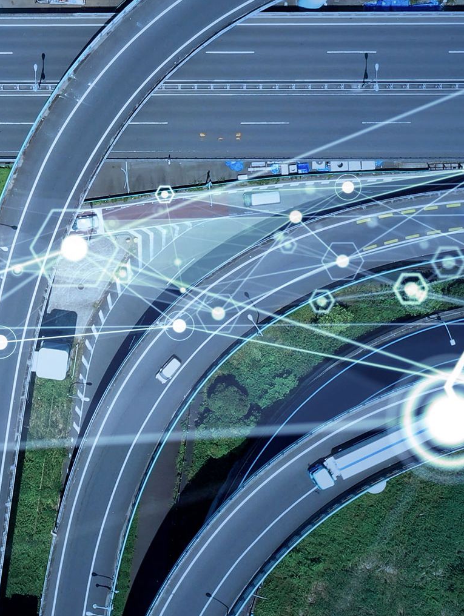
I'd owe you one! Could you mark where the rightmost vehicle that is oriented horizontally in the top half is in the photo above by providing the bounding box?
[240,190,281,210]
